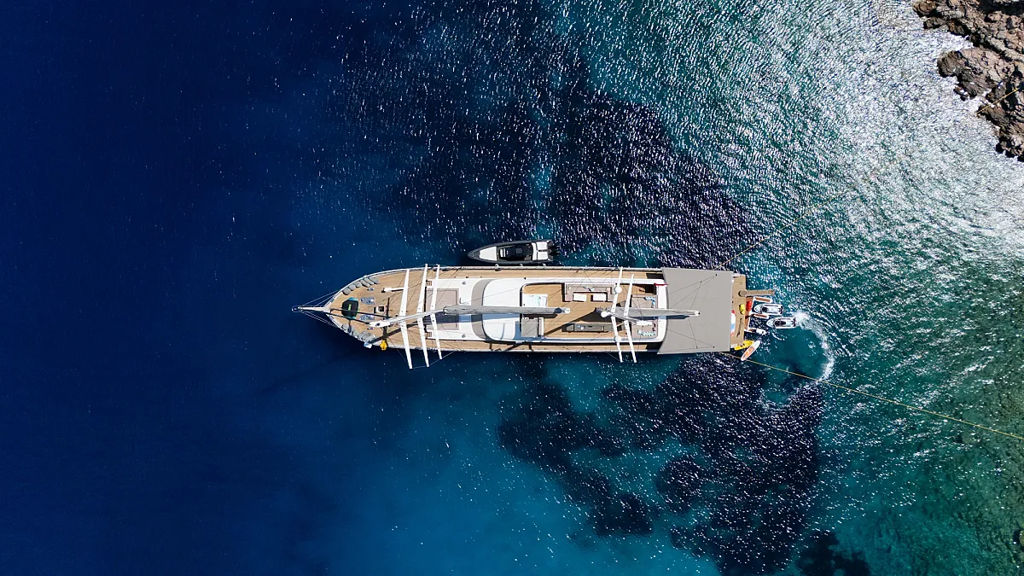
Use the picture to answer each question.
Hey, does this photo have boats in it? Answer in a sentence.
Yes, a boat appears in the view.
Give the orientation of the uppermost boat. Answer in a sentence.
The uppermost boat has been laid out horizontally relative to the frame.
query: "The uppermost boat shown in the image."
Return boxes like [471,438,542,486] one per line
[467,240,557,264]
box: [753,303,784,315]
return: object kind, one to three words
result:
boat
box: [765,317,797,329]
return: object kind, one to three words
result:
boat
